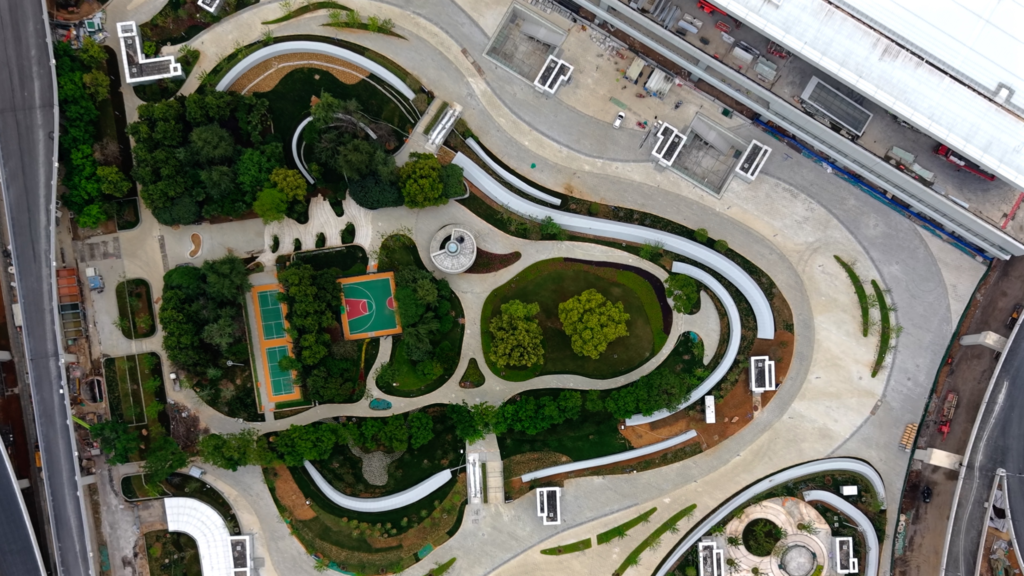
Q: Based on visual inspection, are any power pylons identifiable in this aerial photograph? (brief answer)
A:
No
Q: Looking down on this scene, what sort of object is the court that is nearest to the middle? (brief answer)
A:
basketball court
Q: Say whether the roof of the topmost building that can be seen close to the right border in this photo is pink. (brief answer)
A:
No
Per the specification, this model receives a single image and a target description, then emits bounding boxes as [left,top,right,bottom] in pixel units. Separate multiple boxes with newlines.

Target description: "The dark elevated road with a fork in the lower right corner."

[909,302,1024,576]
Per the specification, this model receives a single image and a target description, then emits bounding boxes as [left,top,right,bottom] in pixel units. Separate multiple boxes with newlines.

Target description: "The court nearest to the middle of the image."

[337,271,398,340]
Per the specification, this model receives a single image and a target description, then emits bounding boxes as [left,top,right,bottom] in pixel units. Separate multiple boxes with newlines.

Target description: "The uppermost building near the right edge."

[703,0,1024,195]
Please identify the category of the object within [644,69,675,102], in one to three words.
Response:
shed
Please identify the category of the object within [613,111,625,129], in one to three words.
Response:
vehicle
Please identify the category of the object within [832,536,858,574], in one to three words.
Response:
building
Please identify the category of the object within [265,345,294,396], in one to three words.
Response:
sports court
